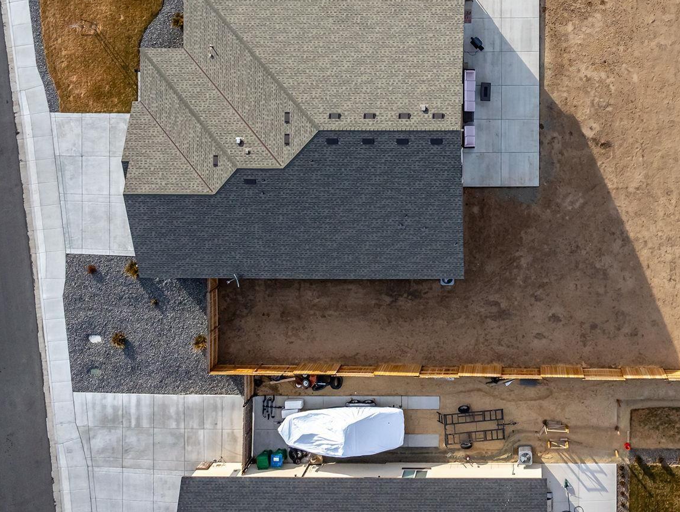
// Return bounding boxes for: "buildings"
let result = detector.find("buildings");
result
[175,461,550,512]
[122,0,465,288]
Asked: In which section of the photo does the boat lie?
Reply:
bottom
